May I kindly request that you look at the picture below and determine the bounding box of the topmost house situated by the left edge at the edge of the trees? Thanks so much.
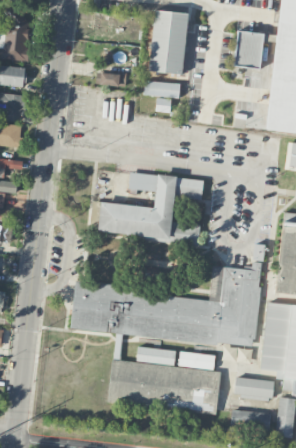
[0,27,28,62]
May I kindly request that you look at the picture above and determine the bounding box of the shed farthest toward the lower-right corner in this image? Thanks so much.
[278,398,296,438]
